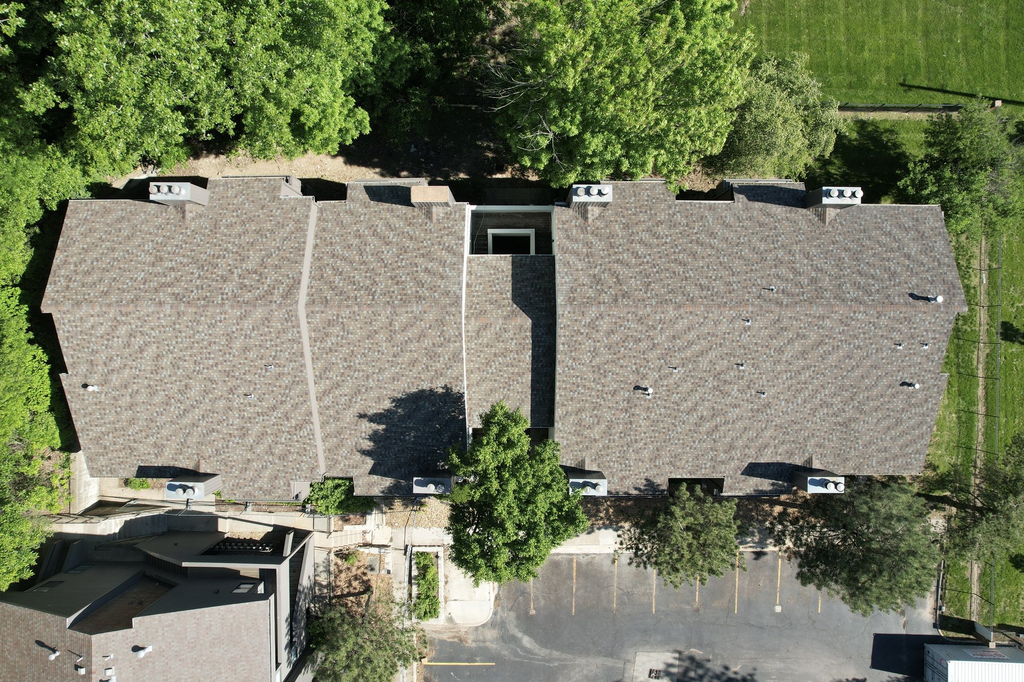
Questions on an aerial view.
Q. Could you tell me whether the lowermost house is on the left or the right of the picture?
left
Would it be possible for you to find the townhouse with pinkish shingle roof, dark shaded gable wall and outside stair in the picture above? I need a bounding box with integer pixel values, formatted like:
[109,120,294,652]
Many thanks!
[0,532,342,682]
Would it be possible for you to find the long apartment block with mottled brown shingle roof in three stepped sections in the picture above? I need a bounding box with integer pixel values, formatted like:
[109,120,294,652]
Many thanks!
[42,176,967,501]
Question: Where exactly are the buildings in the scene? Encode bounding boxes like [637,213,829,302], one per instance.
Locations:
[0,532,342,682]
[42,176,967,501]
